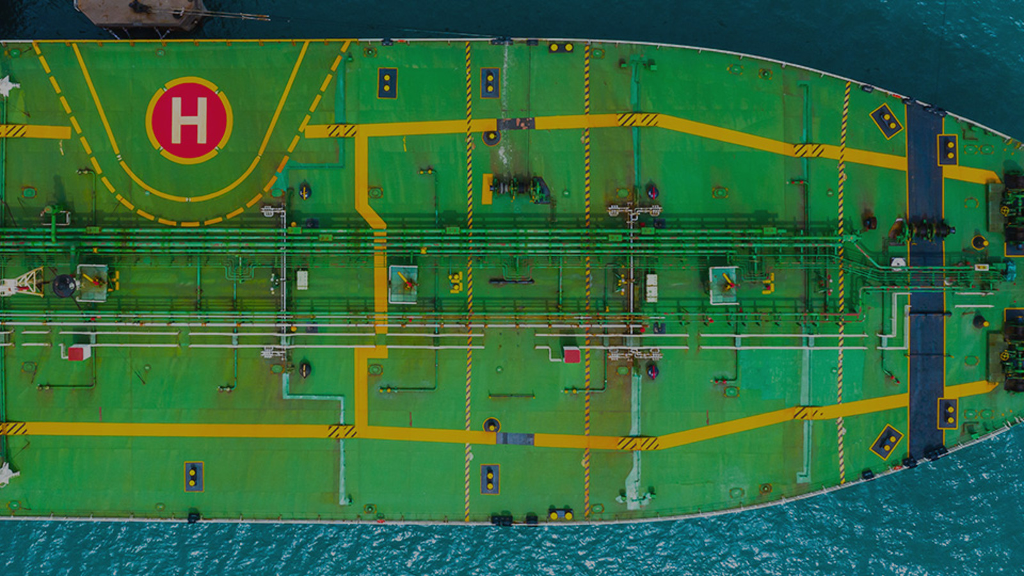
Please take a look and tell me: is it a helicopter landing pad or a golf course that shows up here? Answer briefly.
helicopter landing pad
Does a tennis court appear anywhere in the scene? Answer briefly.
No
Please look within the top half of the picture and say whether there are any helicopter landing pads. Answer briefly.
Yes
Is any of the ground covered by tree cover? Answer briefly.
No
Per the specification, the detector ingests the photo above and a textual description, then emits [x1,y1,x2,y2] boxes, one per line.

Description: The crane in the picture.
[0,266,50,297]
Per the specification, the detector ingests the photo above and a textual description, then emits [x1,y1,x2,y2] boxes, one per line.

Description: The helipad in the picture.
[32,43,348,227]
